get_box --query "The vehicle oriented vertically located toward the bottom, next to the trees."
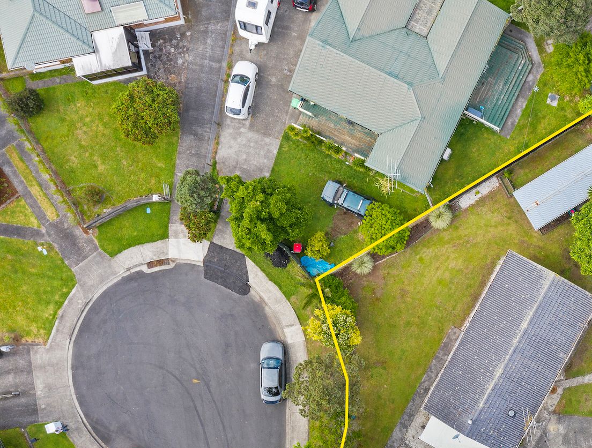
[257,342,288,404]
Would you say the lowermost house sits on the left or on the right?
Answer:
right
